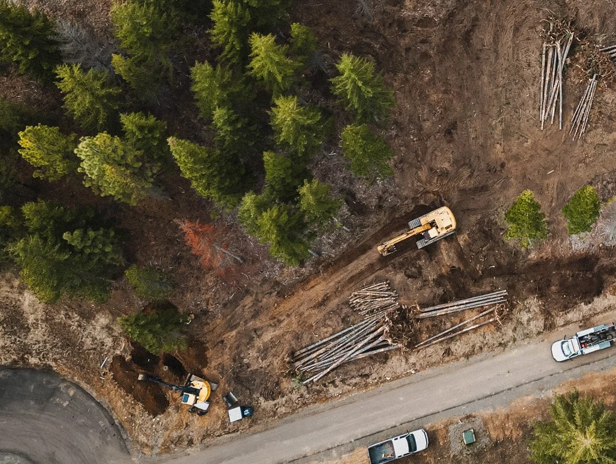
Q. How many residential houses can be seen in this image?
0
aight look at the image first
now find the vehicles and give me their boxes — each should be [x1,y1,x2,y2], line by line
[552,323,616,364]
[228,390,259,423]
[363,428,433,464]
[149,367,227,414]
[374,206,455,255]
